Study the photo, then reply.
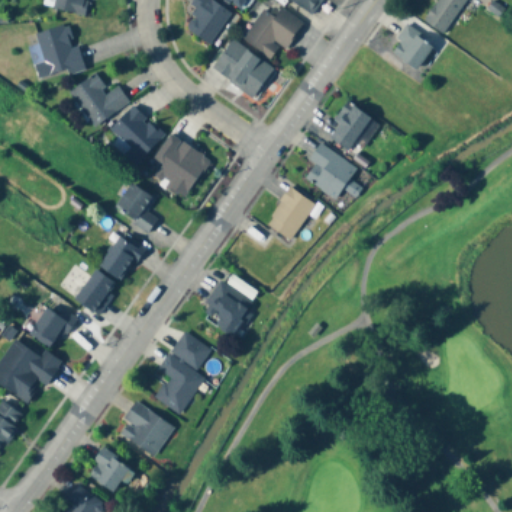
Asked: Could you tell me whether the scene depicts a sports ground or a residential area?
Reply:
residential area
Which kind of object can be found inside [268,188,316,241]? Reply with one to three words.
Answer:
house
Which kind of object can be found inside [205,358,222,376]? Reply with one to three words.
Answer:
swimming pool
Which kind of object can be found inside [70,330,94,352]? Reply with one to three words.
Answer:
camper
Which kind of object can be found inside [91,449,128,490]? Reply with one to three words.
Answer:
house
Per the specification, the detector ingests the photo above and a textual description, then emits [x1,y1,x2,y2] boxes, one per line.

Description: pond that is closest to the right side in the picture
[471,225,512,356]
